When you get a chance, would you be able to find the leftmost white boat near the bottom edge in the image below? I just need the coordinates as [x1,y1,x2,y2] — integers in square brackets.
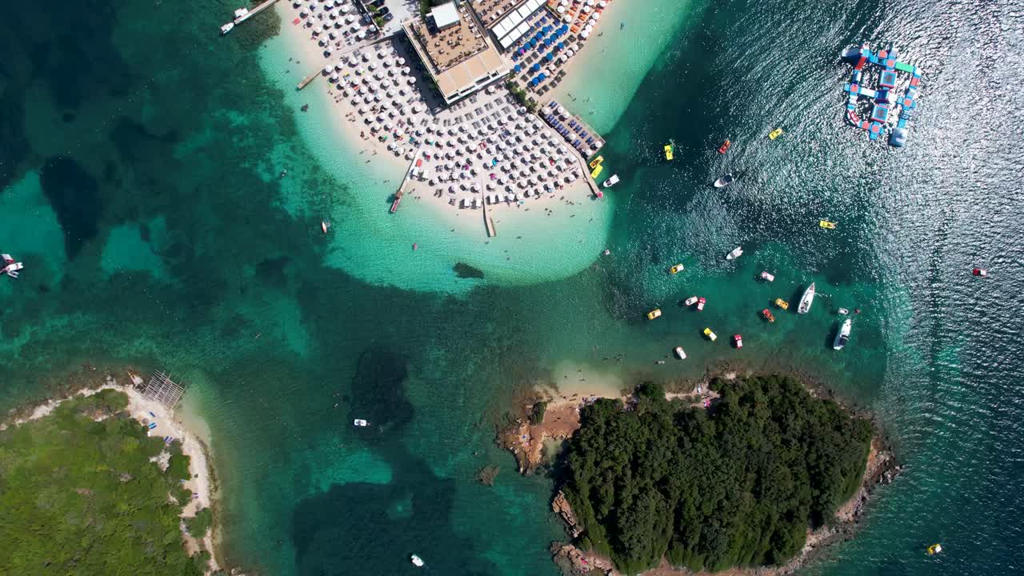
[409,553,424,566]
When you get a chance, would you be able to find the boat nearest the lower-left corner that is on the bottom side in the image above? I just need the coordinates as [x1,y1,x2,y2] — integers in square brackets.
[129,371,143,386]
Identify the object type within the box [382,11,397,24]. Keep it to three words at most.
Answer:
vehicle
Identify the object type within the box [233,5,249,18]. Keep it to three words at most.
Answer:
boat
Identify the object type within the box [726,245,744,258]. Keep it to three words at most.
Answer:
boat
